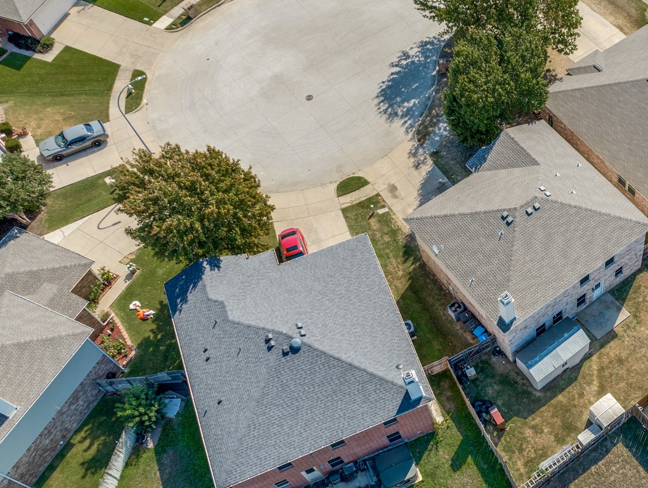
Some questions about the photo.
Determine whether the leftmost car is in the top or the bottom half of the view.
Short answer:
top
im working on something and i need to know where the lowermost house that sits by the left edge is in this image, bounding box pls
[0,288,125,488]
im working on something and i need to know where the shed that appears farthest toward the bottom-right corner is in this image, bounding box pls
[589,394,624,432]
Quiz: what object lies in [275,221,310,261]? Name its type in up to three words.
car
